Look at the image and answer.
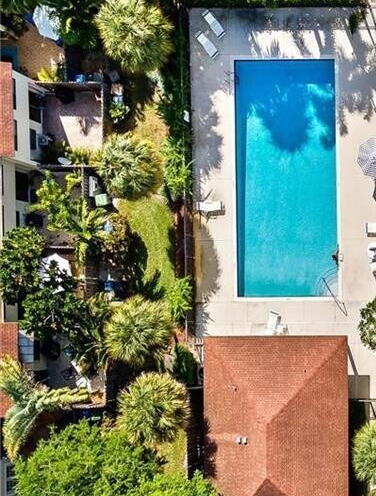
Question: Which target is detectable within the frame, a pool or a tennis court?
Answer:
pool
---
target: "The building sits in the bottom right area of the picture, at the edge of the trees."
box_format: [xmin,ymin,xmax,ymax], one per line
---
[203,335,356,496]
